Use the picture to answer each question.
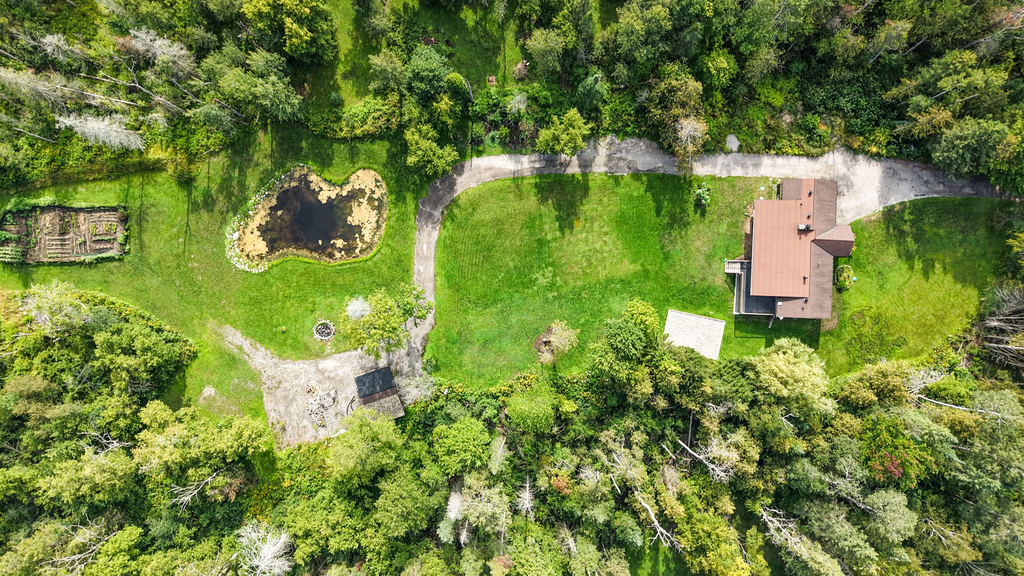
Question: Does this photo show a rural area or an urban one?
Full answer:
The area is rural.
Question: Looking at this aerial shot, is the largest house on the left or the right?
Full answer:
The largest house appears in the right half of the scene.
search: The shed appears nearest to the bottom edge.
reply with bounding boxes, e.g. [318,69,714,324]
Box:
[355,365,406,418]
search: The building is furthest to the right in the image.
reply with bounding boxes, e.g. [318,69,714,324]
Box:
[740,179,854,319]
